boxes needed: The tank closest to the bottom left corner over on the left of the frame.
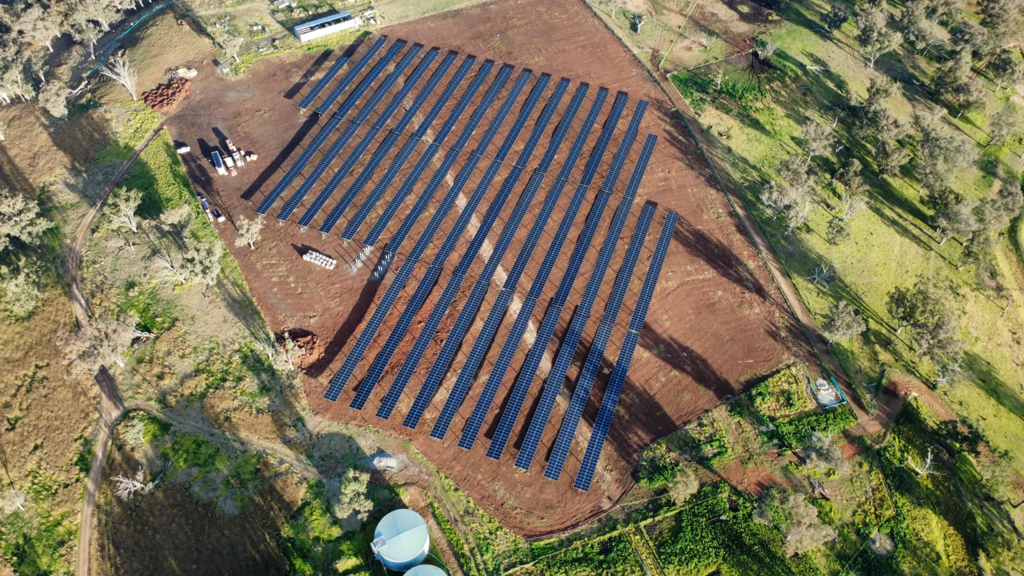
[370,514,429,574]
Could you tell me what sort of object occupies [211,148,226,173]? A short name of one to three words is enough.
vehicle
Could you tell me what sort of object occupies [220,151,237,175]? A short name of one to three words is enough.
vehicle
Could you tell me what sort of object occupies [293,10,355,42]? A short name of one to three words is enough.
shed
